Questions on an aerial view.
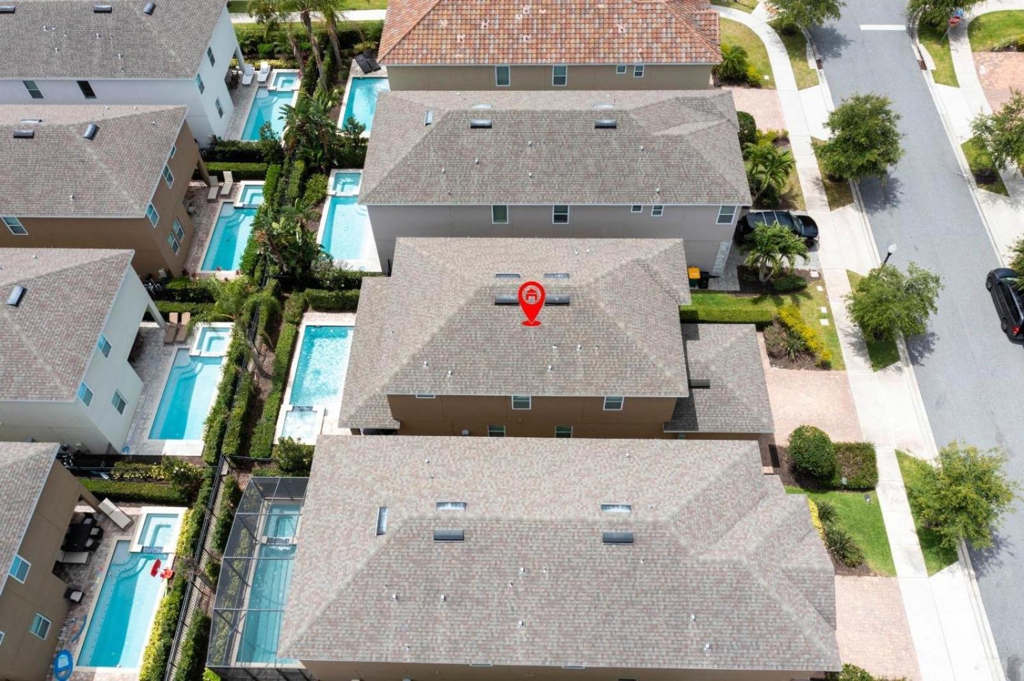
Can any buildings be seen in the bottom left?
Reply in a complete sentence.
Yes, the scene does show a building in the bottom left.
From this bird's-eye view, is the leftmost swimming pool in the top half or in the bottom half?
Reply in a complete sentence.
Seen from above, the leftmost swimming pool lies in the bottom half of the view.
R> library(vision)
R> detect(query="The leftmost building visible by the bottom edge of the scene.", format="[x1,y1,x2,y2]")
[0,441,97,681]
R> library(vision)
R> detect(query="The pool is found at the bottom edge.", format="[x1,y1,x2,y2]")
[71,509,182,675]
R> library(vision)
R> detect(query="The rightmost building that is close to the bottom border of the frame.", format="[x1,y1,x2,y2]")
[274,435,846,681]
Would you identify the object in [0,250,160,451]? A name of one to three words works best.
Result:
house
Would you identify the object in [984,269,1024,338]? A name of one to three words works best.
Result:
car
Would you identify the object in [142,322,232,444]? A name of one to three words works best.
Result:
swimming pool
